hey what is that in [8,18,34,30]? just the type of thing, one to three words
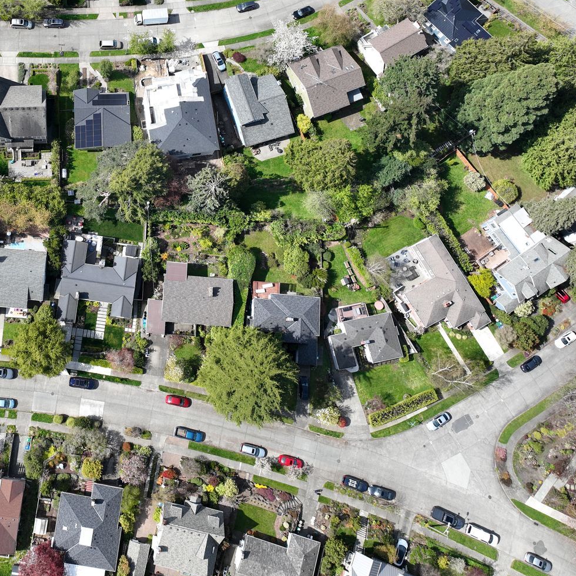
vehicle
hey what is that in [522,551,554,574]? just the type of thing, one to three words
car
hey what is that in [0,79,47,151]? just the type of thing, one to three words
house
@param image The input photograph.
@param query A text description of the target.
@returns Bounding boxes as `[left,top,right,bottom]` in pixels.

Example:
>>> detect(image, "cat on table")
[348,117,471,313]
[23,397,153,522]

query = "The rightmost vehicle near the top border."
[291,4,316,21]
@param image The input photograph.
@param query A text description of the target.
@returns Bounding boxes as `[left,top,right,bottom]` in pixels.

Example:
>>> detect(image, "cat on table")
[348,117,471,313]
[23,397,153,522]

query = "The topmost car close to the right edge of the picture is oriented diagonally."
[553,283,574,308]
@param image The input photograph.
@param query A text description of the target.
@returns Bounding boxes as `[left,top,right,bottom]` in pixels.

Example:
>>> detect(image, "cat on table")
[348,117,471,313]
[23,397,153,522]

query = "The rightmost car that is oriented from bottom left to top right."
[552,330,576,350]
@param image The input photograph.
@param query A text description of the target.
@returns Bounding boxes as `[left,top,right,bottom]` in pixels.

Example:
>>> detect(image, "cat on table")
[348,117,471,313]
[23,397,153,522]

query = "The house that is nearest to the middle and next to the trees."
[252,294,320,367]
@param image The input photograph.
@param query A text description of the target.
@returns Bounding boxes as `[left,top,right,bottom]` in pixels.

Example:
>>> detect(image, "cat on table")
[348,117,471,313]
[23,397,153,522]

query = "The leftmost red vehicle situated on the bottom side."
[164,395,193,409]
